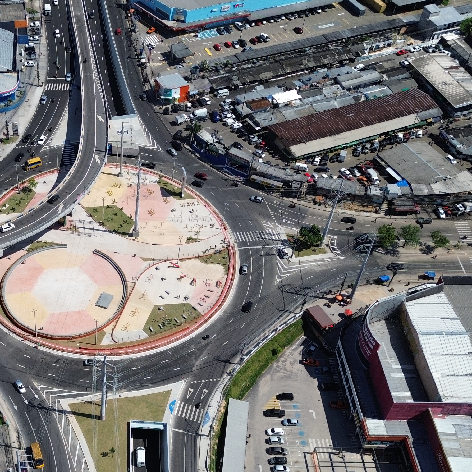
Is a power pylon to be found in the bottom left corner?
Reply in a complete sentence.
Yes, looking in the bottom left corner, one can make out a power pylon.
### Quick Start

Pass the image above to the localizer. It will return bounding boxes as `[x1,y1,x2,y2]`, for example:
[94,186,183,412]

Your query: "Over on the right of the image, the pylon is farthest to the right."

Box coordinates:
[347,230,387,302]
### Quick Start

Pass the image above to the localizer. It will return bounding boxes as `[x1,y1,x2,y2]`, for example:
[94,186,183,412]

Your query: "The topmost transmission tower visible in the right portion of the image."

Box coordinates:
[318,176,353,249]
